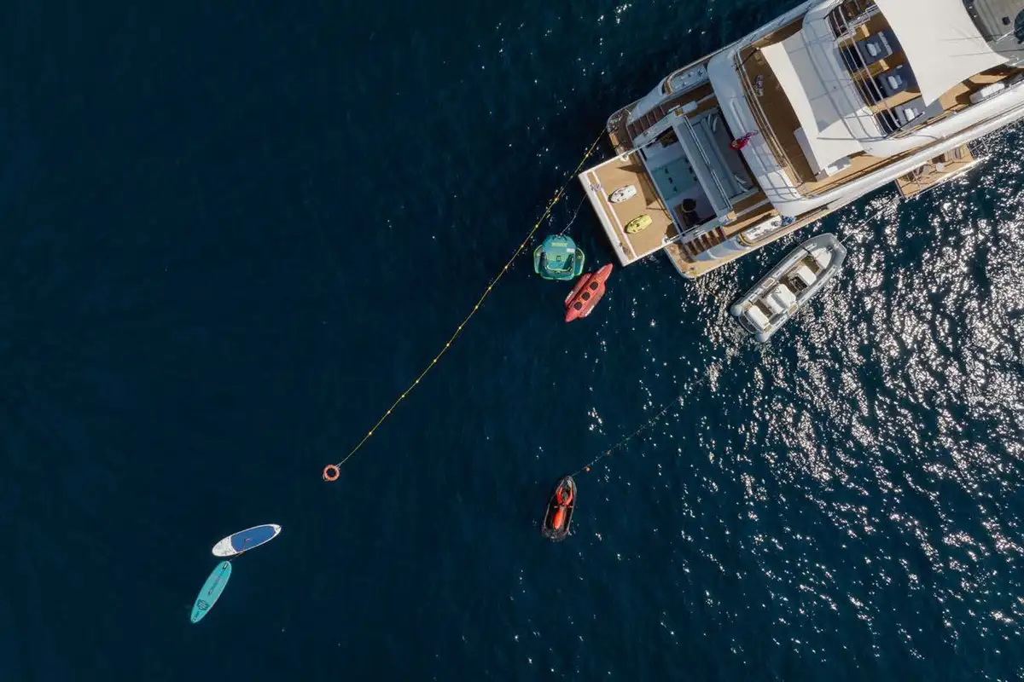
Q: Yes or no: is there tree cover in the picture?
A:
No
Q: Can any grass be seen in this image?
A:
No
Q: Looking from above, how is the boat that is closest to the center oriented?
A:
diagonally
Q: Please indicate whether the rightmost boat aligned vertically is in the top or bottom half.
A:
bottom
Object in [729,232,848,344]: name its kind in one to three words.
boat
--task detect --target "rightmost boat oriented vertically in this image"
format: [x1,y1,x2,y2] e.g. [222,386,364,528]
[543,475,576,540]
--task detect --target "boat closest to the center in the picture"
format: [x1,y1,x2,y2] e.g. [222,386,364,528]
[563,264,614,322]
